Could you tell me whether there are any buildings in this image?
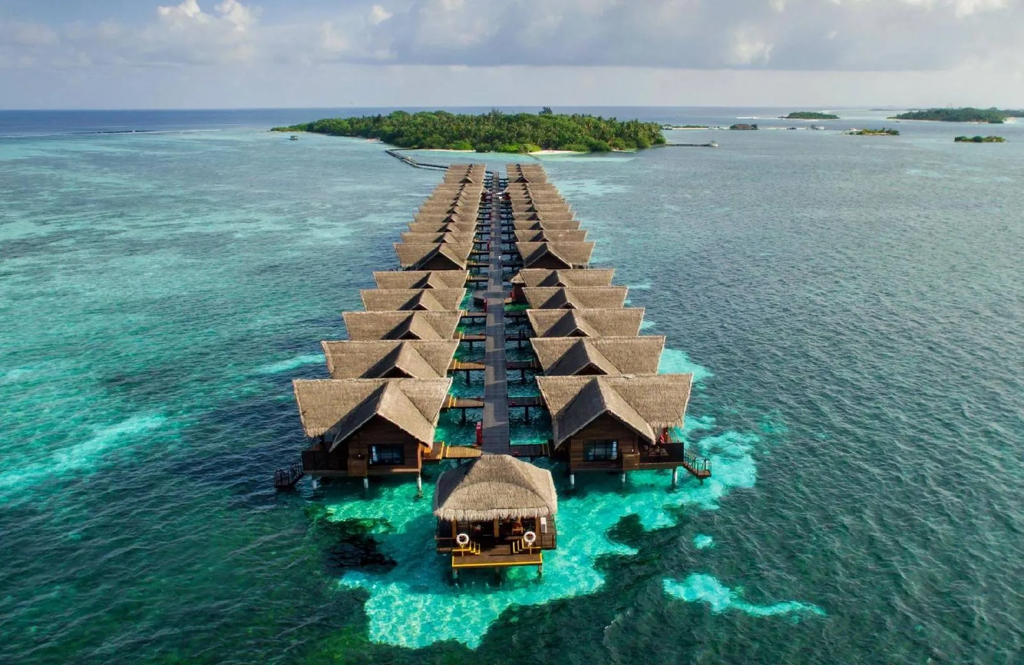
Yes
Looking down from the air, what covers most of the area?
water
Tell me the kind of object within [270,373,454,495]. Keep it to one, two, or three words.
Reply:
house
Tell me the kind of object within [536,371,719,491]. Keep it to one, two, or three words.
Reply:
house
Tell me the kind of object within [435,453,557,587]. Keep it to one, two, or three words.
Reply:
building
